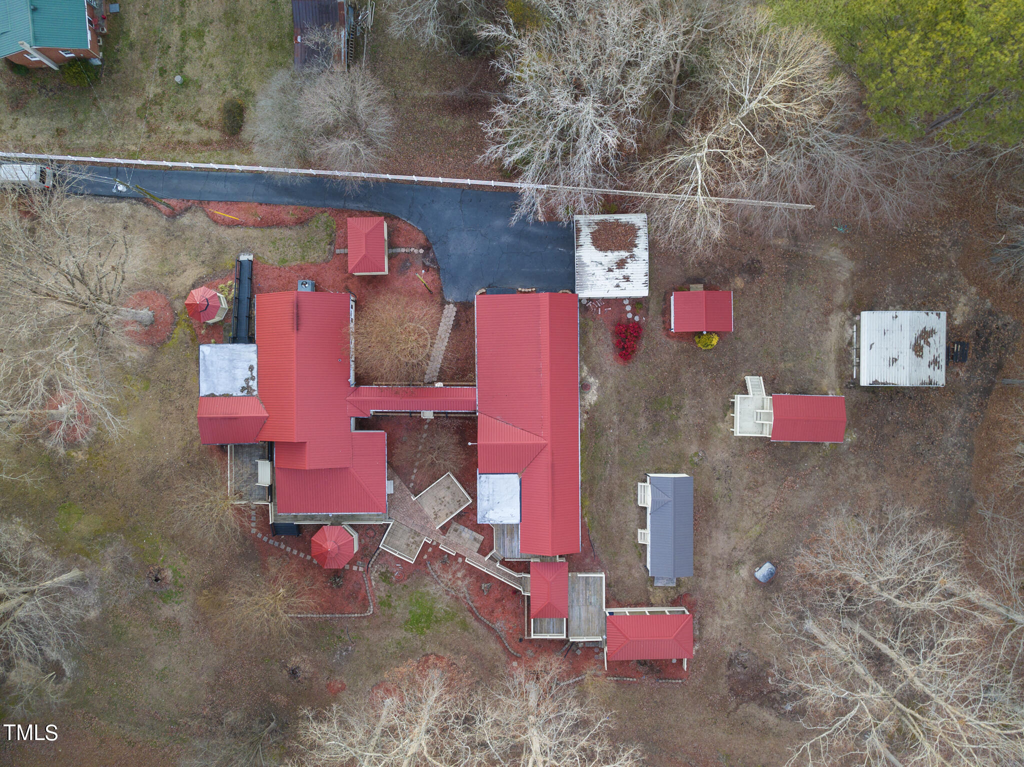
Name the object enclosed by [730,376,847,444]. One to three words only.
shed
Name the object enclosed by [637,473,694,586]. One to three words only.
shed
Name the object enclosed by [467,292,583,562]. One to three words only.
house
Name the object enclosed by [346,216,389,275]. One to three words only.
building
